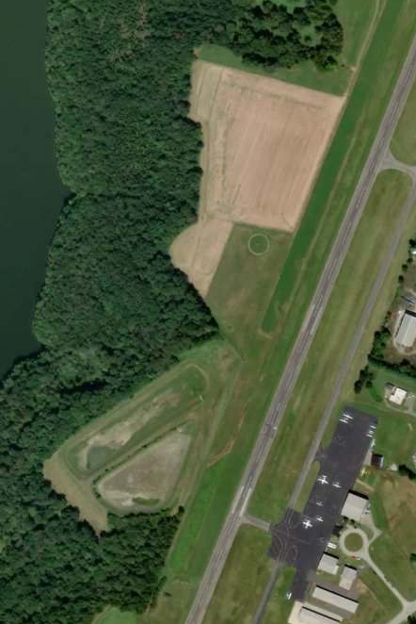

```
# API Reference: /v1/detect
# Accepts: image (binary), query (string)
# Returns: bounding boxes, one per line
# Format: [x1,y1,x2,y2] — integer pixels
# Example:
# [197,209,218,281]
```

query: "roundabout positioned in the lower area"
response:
[341,529,369,557]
